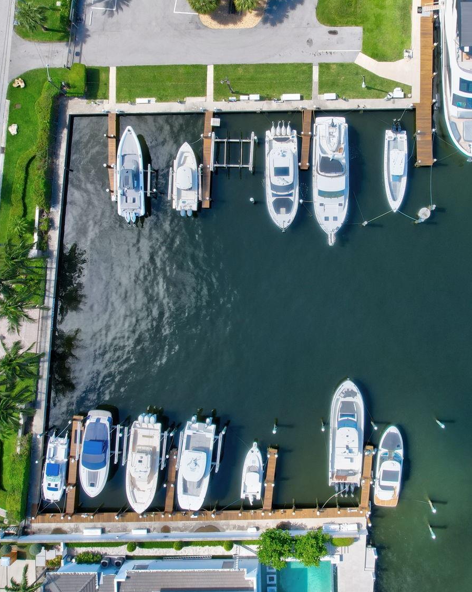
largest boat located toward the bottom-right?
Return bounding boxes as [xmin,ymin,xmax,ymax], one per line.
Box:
[329,376,364,496]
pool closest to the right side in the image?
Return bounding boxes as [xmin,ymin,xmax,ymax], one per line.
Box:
[276,560,332,592]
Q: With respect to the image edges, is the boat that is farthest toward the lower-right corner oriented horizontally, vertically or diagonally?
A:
vertically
